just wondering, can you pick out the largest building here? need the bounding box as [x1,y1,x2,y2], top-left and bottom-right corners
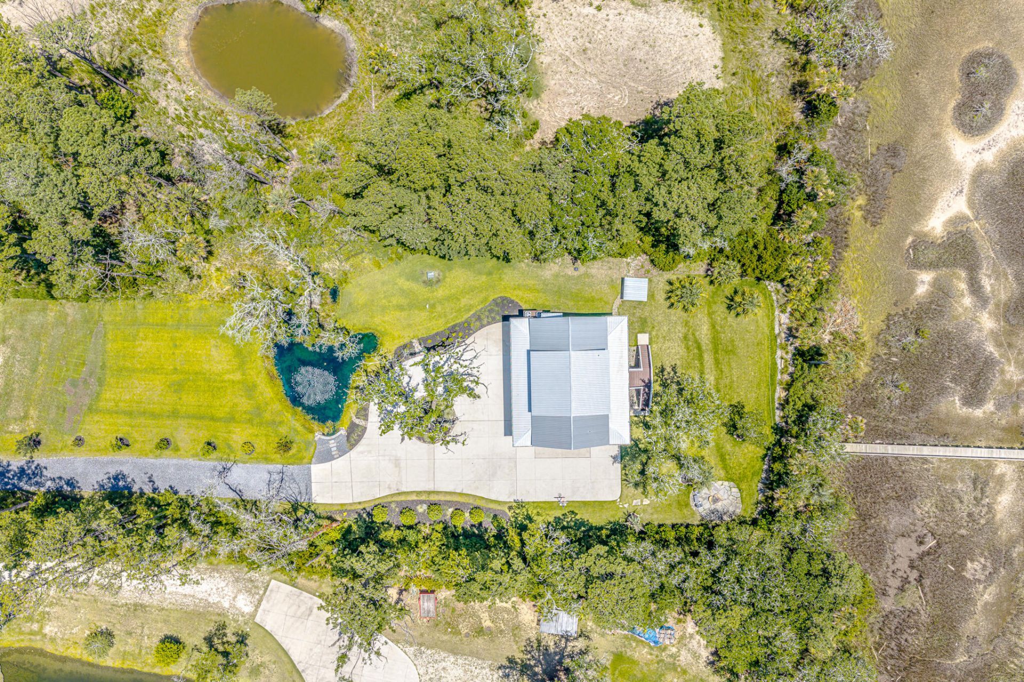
[509,313,631,450]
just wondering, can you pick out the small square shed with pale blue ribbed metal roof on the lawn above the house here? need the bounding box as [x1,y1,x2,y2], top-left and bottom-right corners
[623,278,648,301]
